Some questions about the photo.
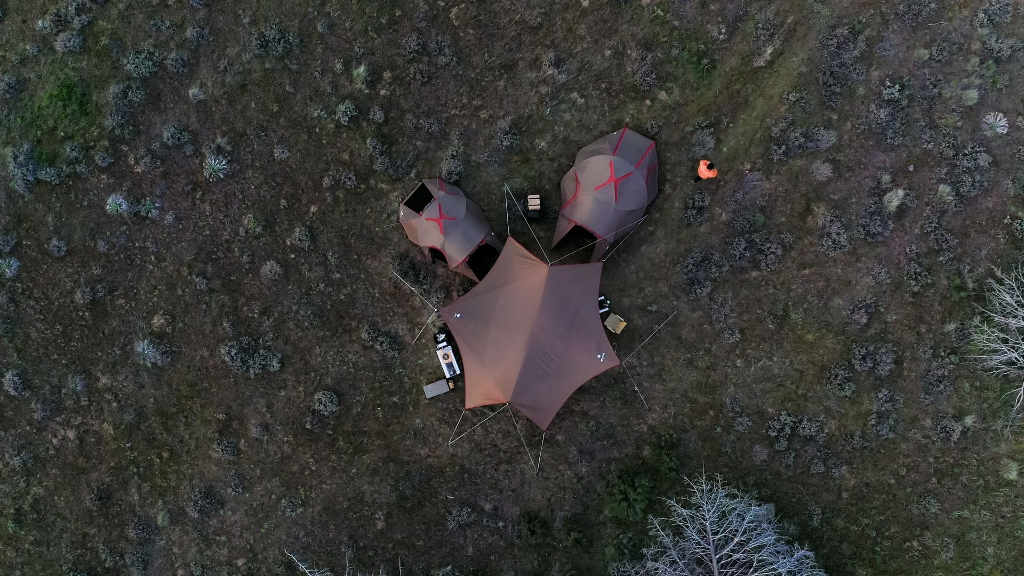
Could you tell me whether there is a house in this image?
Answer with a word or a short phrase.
No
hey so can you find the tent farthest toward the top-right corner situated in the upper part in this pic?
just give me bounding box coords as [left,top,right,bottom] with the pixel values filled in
[537,126,664,264]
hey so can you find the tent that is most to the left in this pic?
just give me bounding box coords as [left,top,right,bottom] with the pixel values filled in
[386,170,515,286]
